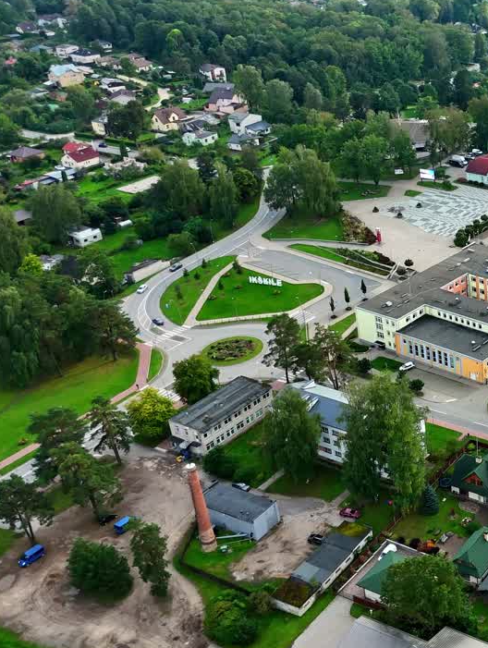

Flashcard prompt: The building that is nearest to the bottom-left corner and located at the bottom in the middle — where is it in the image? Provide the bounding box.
[194,475,284,538]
